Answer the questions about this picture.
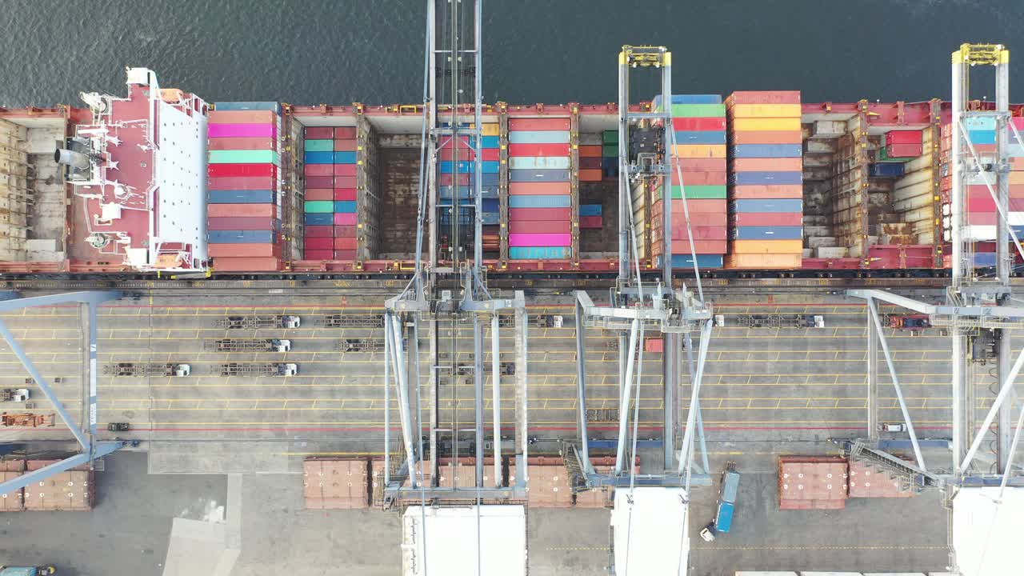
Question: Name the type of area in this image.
port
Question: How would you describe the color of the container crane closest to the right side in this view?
white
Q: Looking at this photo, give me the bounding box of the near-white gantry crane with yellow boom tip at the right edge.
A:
[825,39,1024,576]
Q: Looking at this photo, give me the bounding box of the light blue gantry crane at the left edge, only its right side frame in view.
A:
[0,291,144,494]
